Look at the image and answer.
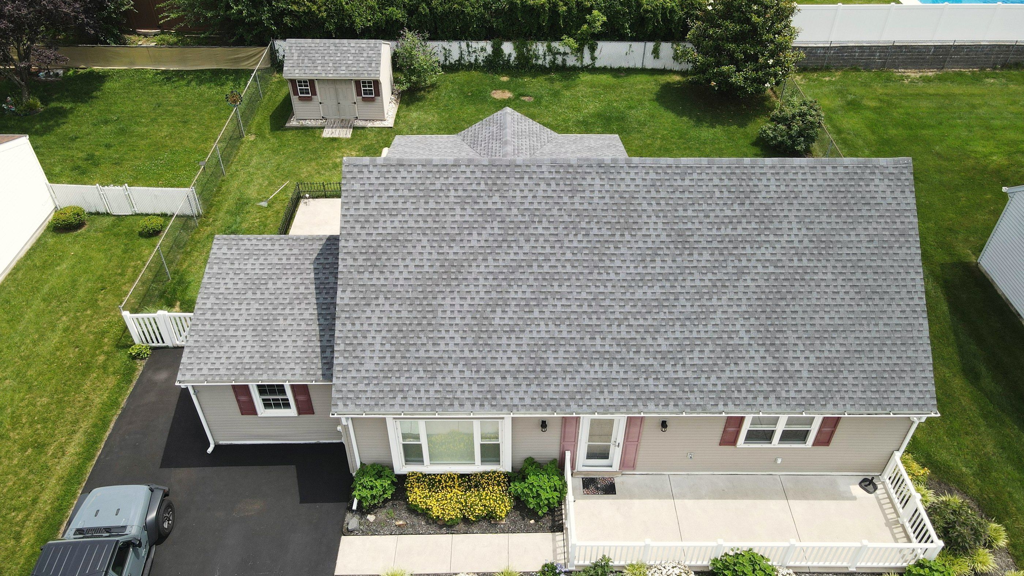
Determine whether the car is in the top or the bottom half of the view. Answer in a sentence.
Seen from above, the car lies in the bottom half of the view.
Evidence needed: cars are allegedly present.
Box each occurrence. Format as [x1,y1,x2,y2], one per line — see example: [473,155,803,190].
[25,487,178,576]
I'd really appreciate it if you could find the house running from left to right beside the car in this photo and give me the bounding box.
[173,105,941,481]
